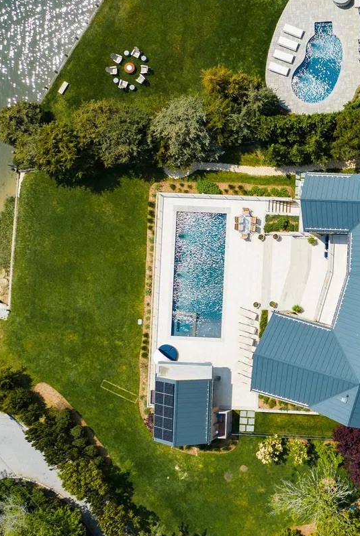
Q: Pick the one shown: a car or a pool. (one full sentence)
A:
It is a pool that can be seen here.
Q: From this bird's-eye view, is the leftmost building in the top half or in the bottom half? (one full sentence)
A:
The leftmost building sits in the bottom half of the picture.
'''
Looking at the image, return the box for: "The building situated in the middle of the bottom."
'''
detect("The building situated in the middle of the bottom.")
[152,360,220,447]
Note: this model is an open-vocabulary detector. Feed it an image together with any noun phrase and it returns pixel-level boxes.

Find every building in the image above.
[152,360,220,447]
[251,170,360,428]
